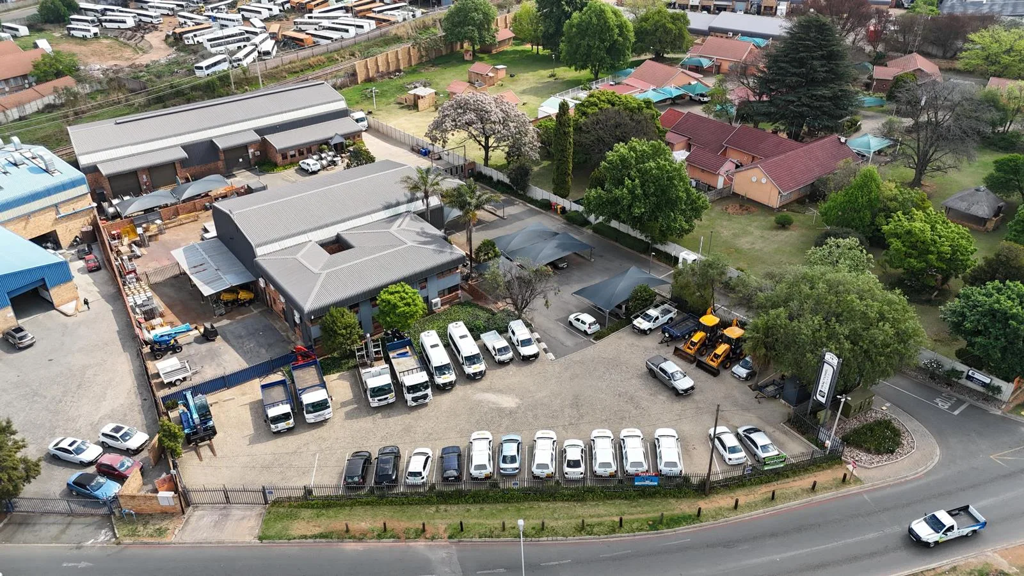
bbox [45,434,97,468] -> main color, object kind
white car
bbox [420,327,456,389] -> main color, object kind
white vehicle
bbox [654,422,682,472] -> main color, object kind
white truck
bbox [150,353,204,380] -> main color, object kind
white trailer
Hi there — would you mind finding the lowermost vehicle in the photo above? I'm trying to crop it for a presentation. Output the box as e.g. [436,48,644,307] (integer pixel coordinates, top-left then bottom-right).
[909,503,990,548]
